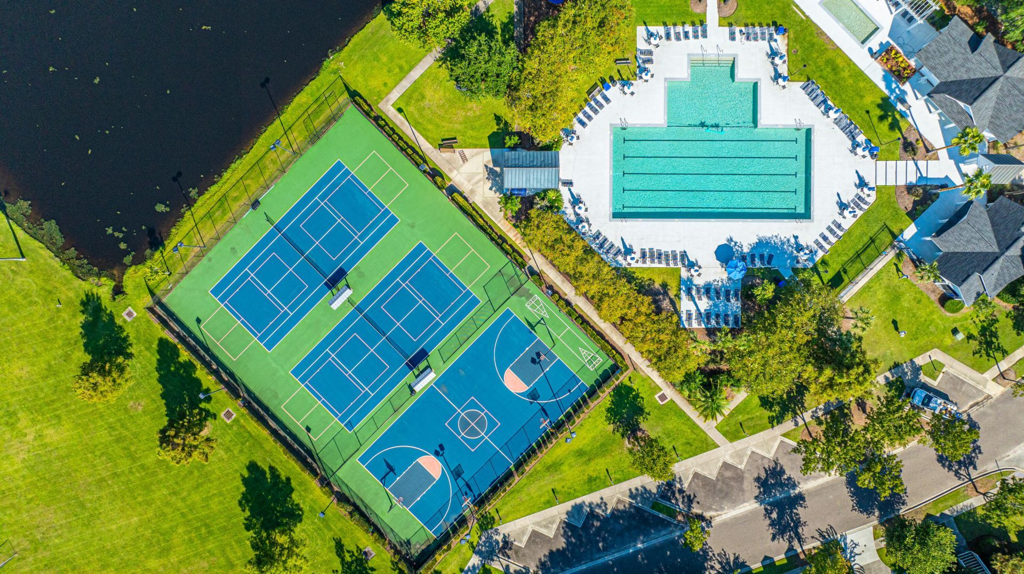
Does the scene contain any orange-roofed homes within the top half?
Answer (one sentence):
No, no orange-roofed home appears within the top half.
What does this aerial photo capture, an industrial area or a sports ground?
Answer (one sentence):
This looks like a sports ground.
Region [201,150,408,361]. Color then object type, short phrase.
blue tennis court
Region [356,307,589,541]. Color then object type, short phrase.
blue basketball court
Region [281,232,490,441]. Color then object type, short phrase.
blue tennis court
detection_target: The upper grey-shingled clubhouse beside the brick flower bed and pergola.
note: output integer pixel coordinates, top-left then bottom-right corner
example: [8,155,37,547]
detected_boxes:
[910,8,1024,145]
